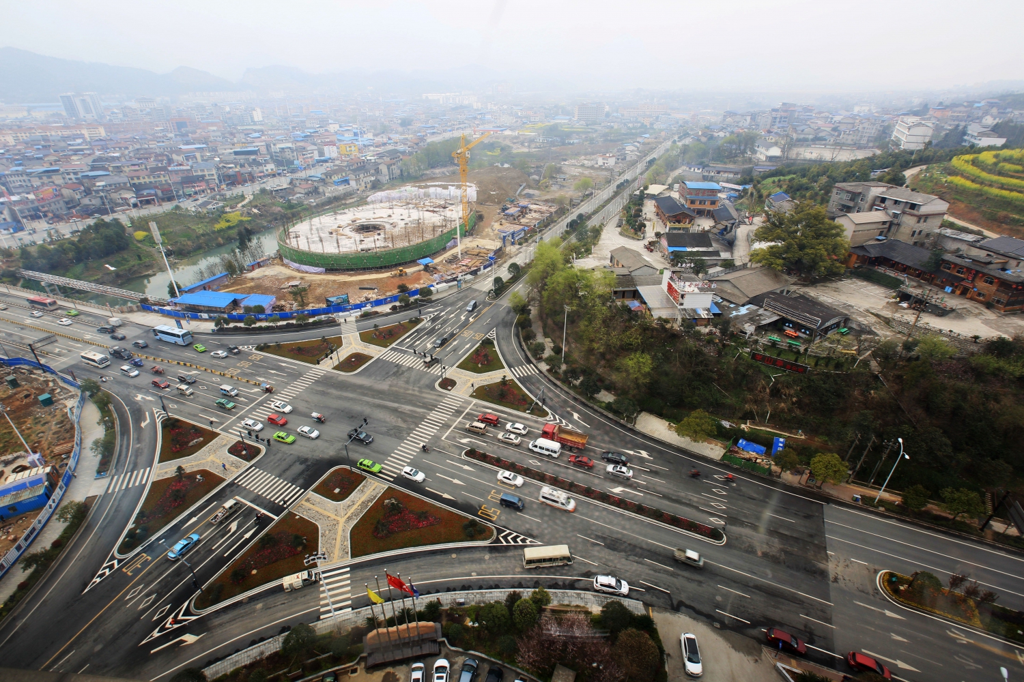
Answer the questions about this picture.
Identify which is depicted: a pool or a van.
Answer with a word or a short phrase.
van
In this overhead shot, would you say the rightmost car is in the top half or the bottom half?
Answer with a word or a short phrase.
bottom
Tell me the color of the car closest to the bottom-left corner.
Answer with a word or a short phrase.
blue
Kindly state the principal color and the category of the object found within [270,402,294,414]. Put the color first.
white vehicle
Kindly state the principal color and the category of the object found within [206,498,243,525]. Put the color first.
gray truck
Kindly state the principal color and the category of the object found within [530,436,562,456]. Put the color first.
white vehicle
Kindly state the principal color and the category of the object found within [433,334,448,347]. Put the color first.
gray vehicle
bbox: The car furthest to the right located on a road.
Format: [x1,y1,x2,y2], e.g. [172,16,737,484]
[845,651,893,682]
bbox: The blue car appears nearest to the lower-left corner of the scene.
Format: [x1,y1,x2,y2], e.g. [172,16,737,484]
[164,534,202,563]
